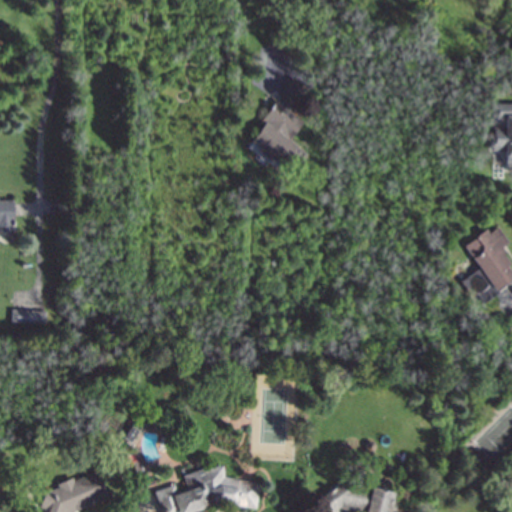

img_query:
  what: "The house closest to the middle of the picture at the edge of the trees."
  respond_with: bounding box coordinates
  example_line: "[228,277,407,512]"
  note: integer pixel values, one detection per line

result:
[252,102,312,172]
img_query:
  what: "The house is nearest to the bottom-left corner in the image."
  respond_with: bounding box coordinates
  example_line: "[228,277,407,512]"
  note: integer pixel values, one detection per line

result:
[44,474,106,512]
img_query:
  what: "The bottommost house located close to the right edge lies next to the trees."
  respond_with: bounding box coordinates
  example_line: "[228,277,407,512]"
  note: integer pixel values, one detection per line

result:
[466,227,512,298]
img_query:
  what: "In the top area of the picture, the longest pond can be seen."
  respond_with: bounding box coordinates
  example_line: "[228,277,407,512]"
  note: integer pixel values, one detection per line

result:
[88,59,134,152]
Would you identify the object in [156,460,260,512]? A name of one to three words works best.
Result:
house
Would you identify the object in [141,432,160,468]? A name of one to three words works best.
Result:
swimming pool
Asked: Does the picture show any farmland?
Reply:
No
